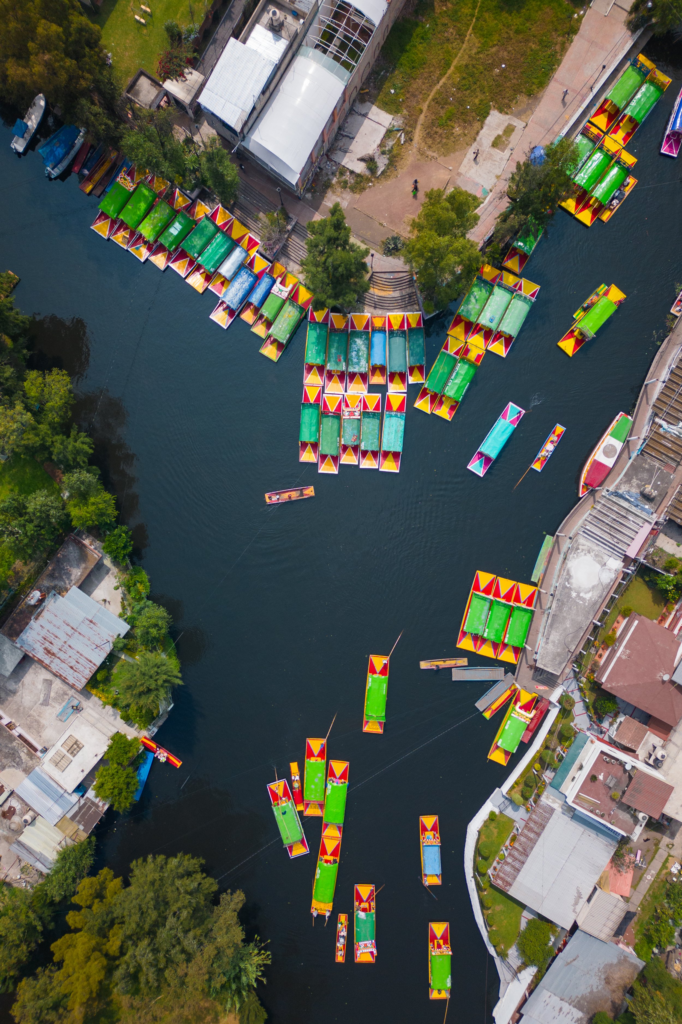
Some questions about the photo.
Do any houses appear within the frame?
Yes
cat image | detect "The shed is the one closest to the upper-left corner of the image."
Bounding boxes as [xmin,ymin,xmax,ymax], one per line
[124,69,169,115]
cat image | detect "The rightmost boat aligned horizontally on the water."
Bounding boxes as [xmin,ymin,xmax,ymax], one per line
[452,667,504,681]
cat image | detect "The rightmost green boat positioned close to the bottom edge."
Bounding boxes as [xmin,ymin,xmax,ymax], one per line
[429,921,452,999]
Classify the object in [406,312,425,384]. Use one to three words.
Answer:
boat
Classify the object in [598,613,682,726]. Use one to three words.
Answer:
house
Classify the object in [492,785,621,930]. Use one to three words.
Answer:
shed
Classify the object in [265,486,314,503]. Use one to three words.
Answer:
boat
